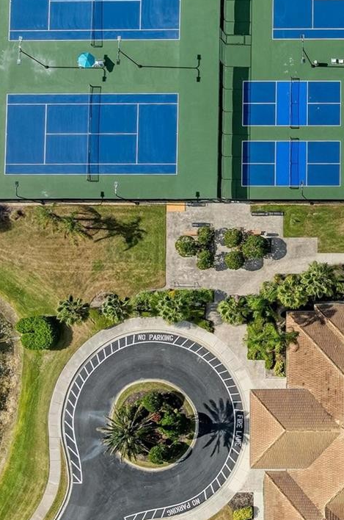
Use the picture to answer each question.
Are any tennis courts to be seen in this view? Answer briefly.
Yes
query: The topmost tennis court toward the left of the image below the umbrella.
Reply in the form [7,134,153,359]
[5,93,179,174]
